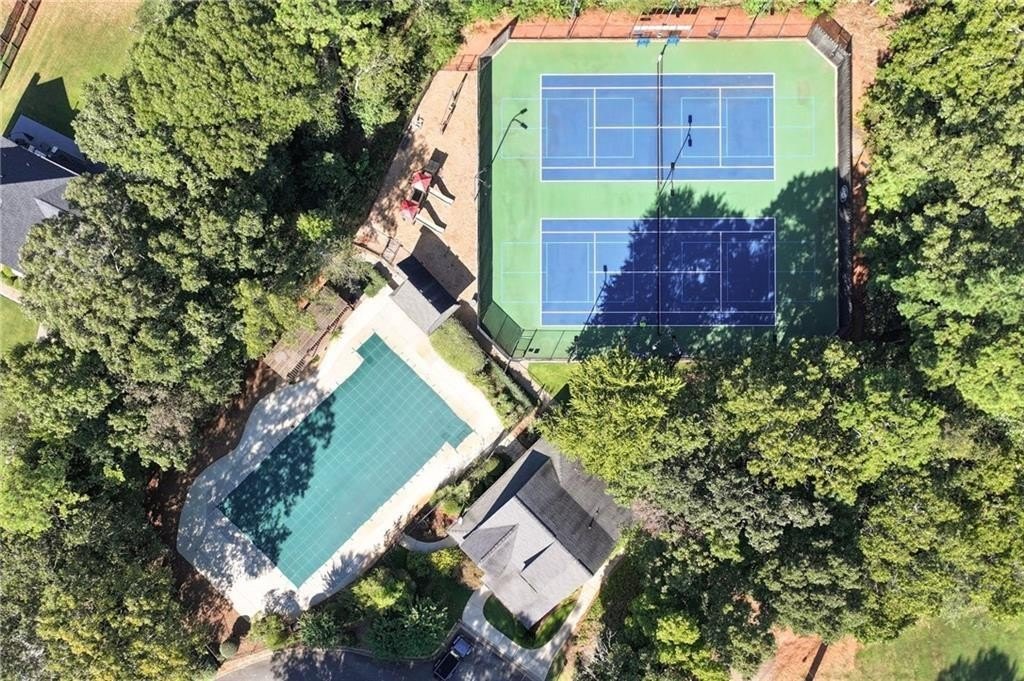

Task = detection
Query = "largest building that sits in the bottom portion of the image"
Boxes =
[446,437,635,626]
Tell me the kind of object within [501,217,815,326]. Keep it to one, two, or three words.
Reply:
tennis court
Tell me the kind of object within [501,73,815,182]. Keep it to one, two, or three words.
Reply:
tennis court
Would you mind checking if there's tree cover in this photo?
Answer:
Yes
